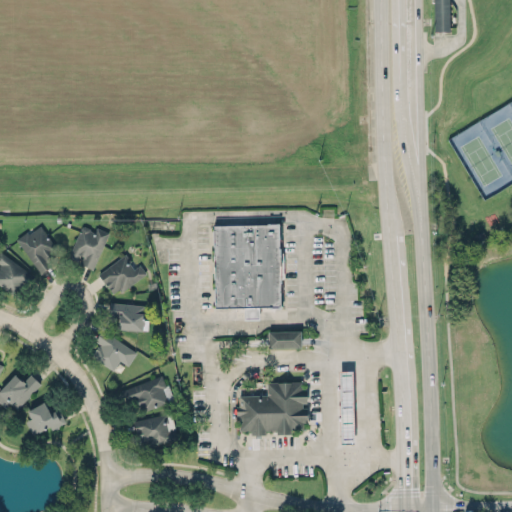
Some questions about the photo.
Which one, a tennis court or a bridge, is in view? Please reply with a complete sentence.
Of the two, only a tennis court appears.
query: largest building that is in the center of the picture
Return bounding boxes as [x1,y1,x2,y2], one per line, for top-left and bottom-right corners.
[214,222,284,308]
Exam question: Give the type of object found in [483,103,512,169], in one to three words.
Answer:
tennis court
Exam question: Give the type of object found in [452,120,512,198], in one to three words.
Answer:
tennis court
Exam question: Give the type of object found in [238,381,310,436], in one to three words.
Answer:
building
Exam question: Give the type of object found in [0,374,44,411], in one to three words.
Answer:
house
